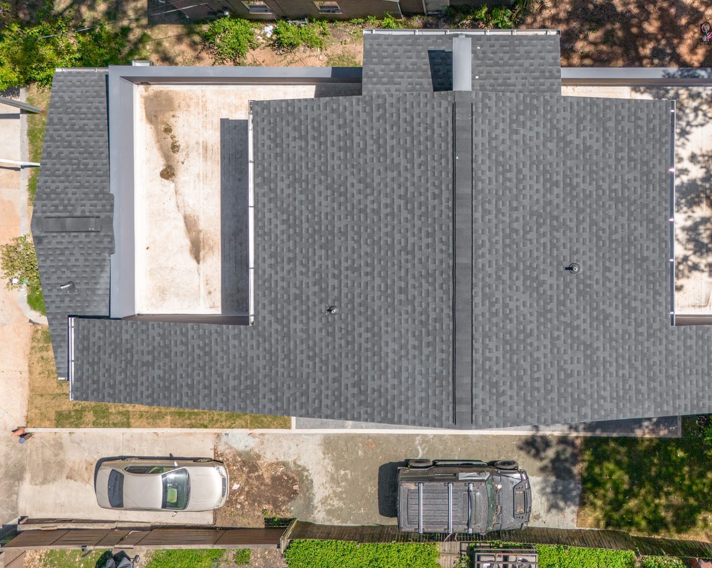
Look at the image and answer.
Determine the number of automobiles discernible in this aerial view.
2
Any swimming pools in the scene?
No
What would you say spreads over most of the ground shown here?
buildings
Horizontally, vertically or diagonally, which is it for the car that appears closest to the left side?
horizontally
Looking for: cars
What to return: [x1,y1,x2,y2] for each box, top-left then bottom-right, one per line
[94,456,233,520]
[396,456,533,535]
